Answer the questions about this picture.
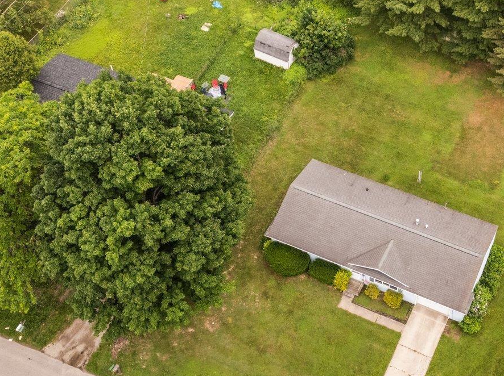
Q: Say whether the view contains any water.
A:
No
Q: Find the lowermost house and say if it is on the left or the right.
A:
right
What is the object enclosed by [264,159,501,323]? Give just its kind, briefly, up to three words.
house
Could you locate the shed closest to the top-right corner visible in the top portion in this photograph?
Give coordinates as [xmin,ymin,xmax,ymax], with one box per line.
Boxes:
[254,28,298,65]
